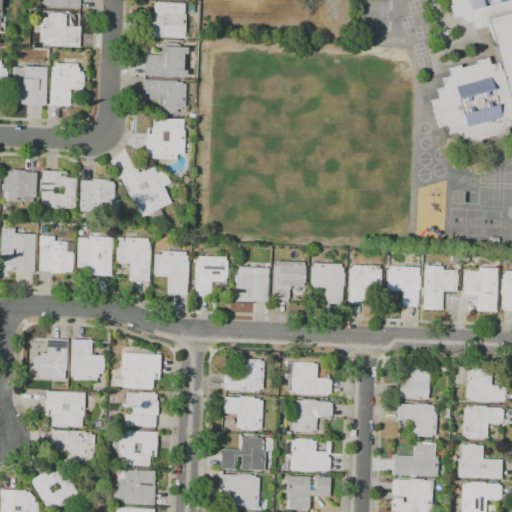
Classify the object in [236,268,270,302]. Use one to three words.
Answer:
house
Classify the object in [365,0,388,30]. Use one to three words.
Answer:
sports court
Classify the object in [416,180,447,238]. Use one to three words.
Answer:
playground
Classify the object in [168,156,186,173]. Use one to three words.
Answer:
swimming pool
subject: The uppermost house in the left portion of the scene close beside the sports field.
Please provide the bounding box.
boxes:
[154,2,187,38]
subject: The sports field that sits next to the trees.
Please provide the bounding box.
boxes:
[205,46,413,240]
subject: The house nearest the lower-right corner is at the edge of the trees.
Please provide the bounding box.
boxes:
[462,483,503,512]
